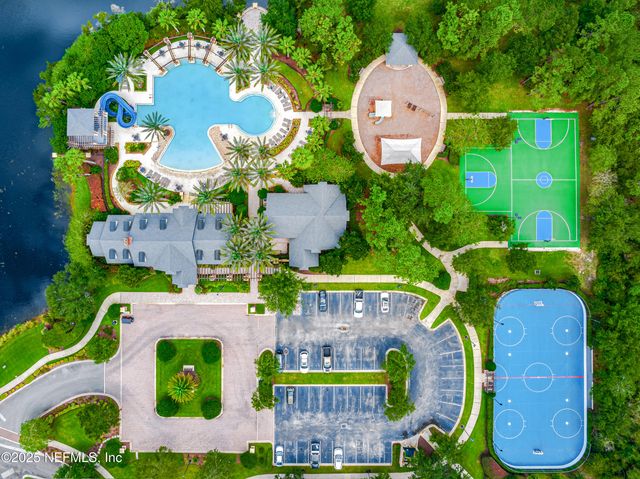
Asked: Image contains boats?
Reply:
No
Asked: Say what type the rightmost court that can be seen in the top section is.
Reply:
basketball court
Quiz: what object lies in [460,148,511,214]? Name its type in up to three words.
basketball court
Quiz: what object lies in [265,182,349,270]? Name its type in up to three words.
building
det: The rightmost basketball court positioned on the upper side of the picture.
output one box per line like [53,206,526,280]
[508,109,581,250]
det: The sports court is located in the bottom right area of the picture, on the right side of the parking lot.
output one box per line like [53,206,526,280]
[492,289,591,472]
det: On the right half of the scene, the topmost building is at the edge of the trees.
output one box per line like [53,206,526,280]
[384,34,418,69]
